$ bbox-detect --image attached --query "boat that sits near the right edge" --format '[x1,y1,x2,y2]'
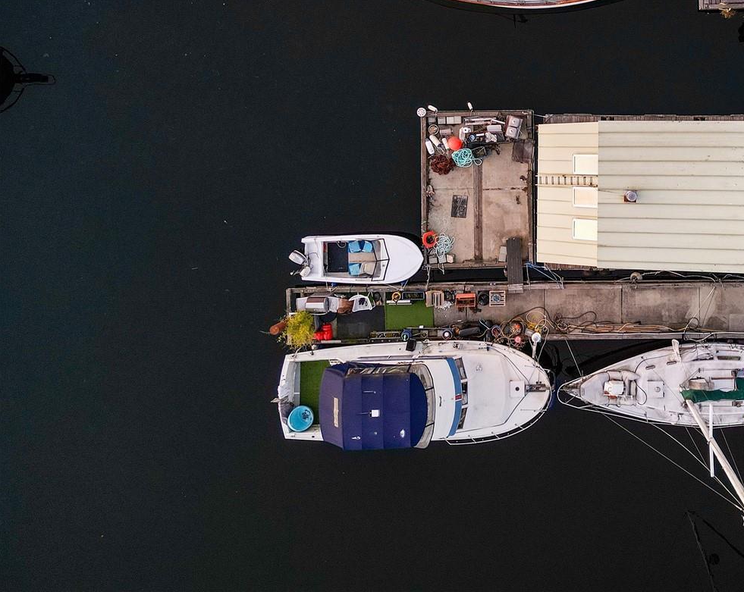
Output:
[556,343,744,526]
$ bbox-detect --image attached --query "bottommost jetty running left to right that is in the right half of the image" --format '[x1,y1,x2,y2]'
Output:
[287,282,744,342]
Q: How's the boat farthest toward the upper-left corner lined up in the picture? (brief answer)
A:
horizontally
